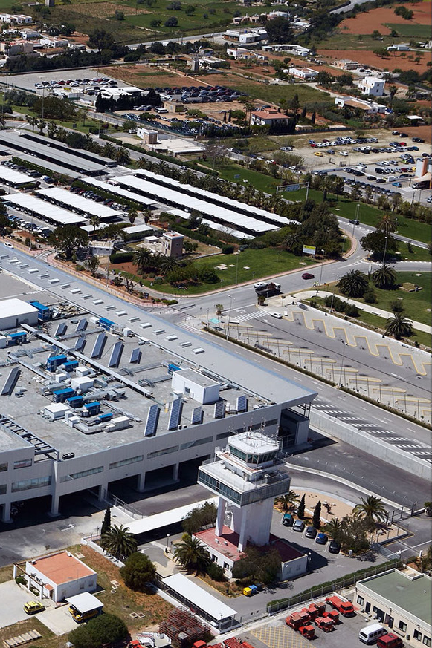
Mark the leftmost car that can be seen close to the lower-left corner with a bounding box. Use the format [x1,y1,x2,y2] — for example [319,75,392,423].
[21,598,48,614]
